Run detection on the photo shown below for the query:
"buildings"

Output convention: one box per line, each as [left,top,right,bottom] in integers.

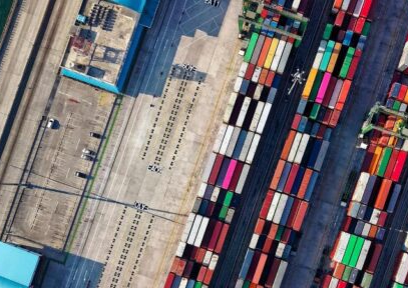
[62,0,161,95]
[0,239,50,288]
